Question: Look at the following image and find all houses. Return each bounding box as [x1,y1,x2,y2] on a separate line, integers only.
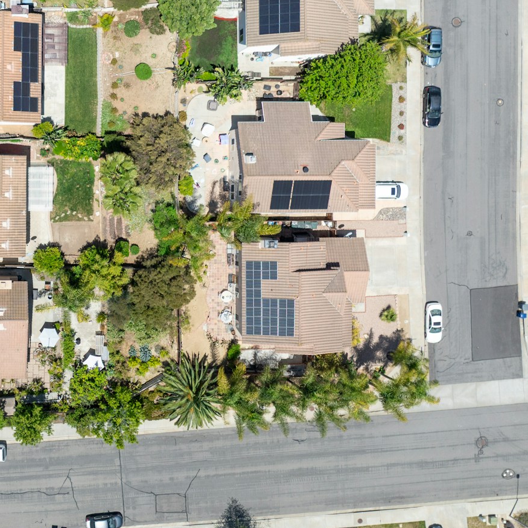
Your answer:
[235,0,375,57]
[0,149,27,258]
[0,272,31,388]
[232,235,376,355]
[226,101,376,213]
[0,5,42,127]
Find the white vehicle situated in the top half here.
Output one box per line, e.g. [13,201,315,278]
[376,181,413,200]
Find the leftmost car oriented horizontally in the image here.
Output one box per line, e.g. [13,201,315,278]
[84,511,124,528]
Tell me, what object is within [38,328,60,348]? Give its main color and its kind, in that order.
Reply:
white umbrella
